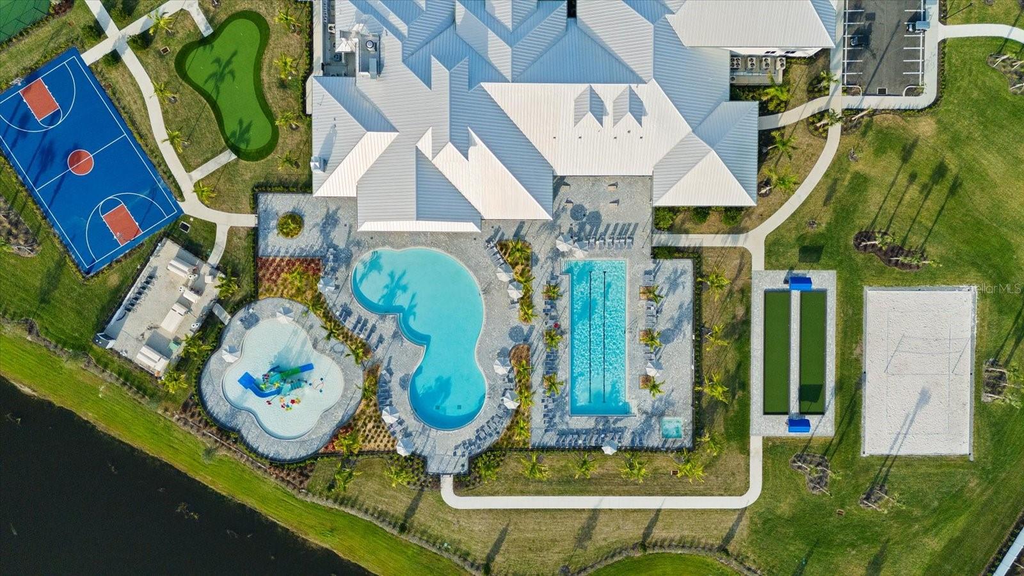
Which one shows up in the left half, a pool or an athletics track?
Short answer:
pool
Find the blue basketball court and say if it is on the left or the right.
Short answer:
left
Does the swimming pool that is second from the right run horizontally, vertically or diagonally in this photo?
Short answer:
vertically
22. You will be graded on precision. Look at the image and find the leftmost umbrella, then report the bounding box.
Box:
[222,344,241,362]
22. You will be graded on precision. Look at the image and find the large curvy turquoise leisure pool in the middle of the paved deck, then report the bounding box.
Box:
[349,245,488,432]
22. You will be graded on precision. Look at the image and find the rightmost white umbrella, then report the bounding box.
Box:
[645,359,662,376]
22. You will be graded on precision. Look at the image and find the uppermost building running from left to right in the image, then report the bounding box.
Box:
[312,0,836,233]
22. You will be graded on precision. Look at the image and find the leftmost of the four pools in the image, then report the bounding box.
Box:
[221,317,345,441]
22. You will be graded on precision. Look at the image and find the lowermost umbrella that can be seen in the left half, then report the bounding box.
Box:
[396,437,413,455]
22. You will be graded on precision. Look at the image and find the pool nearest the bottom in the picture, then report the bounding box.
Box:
[661,418,684,444]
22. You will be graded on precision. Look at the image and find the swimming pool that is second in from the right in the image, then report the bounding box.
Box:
[560,257,633,417]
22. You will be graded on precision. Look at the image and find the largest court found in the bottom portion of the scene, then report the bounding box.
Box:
[861,286,978,461]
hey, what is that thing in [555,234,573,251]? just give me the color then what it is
white umbrella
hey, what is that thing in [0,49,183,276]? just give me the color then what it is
blue basketball court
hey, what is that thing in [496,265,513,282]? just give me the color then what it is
white umbrella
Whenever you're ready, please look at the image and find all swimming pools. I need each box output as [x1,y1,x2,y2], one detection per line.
[661,418,684,444]
[560,257,633,417]
[349,245,488,432]
[221,317,345,441]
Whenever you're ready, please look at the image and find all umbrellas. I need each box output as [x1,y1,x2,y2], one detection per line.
[501,391,519,409]
[381,406,399,423]
[277,306,294,323]
[507,282,524,299]
[600,439,618,457]
[493,357,510,374]
[222,344,241,362]
[555,234,573,251]
[319,275,337,293]
[396,437,413,455]
[496,265,513,282]
[573,240,591,258]
[645,359,662,376]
